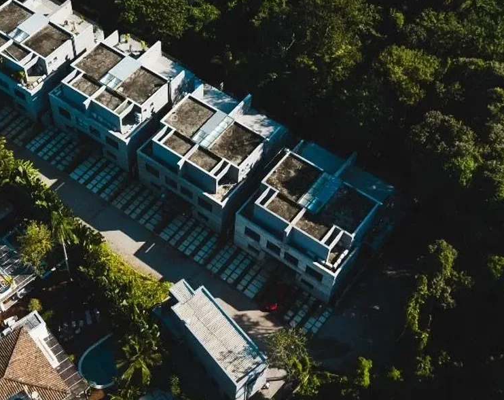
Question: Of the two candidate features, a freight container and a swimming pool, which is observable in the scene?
swimming pool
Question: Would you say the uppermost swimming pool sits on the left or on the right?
left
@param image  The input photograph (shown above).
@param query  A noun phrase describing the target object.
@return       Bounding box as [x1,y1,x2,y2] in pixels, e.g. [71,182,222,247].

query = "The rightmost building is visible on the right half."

[234,139,400,302]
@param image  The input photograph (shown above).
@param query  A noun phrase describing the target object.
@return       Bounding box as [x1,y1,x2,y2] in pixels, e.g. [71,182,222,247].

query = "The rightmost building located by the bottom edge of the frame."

[168,281,267,400]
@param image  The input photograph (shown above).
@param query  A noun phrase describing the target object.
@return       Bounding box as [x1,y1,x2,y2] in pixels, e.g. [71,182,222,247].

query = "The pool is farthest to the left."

[77,334,137,389]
